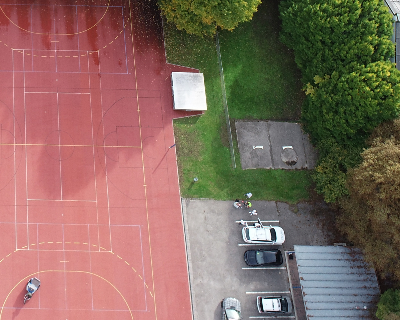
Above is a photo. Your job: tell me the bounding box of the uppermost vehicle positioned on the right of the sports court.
[243,218,287,246]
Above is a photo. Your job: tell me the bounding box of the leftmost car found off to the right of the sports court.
[222,298,244,320]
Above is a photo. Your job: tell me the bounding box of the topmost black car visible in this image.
[246,248,286,268]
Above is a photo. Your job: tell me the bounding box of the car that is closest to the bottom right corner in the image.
[258,295,296,317]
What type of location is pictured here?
sports ground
